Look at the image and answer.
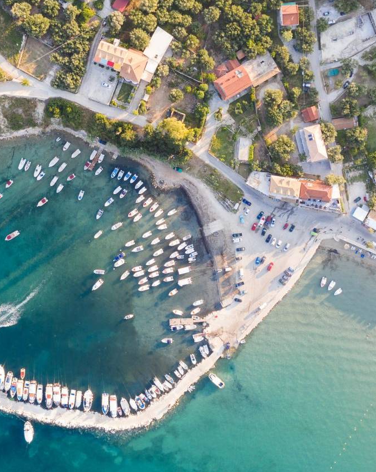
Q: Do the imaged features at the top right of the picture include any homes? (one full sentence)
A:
Yes, at the top right of the picture there is a home.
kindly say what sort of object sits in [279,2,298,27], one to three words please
house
